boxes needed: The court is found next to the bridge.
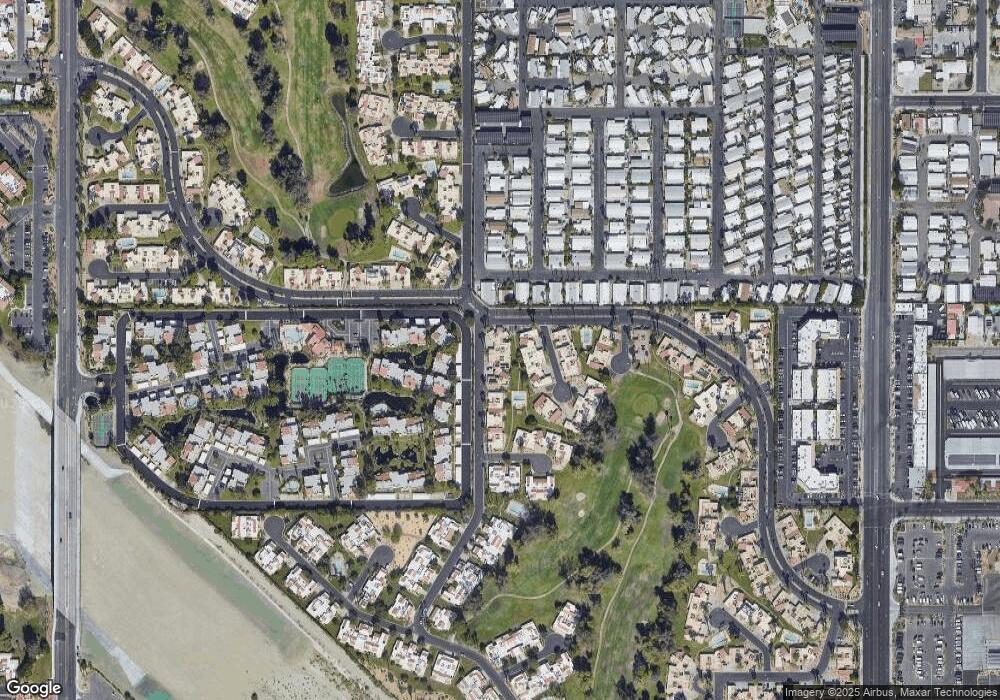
[94,410,109,444]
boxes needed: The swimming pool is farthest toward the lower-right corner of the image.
[781,633,801,645]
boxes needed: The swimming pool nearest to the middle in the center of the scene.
[512,390,526,406]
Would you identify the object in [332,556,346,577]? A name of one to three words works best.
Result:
swimming pool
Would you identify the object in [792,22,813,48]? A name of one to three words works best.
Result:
house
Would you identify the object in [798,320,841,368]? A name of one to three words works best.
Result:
building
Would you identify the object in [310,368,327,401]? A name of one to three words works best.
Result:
tennis court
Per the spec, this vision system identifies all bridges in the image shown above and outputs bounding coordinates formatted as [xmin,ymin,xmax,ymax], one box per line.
[54,404,80,636]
